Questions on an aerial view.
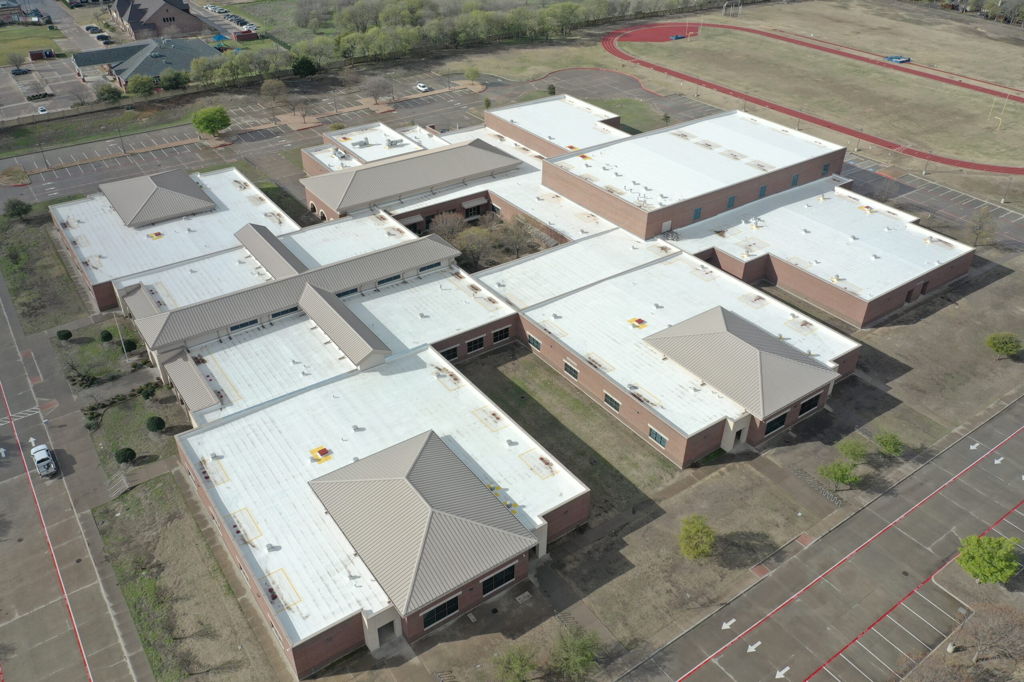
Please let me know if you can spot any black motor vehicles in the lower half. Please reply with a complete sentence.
No, there is no black motor vehicle in the lower half.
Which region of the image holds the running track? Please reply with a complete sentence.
The running track is located in the top right region of the scene.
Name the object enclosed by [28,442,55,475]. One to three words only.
truck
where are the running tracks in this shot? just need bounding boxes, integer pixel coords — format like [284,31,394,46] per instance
[598,22,1024,172]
